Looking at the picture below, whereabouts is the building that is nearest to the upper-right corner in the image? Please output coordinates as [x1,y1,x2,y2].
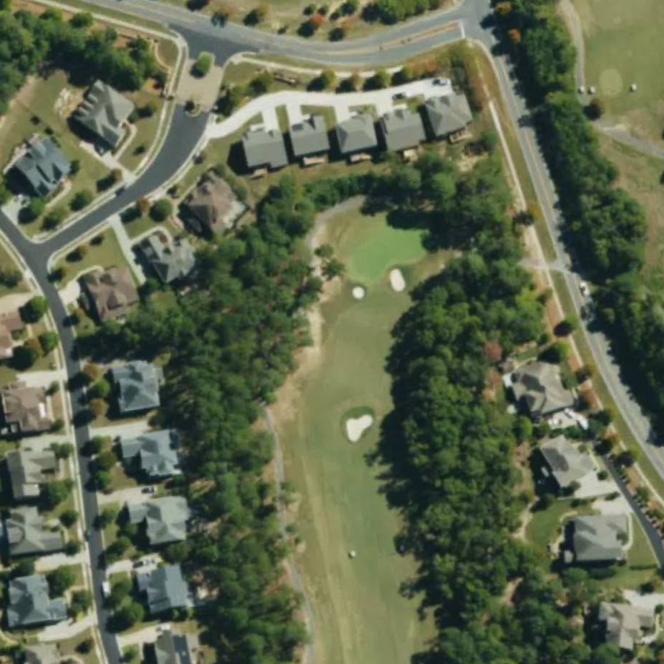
[425,92,475,140]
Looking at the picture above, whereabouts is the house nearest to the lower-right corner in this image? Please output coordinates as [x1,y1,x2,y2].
[593,601,658,654]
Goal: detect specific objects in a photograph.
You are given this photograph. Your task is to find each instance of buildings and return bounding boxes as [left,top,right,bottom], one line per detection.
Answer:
[138,231,194,283]
[514,358,578,418]
[0,507,67,556]
[119,430,187,476]
[566,512,630,566]
[11,131,71,194]
[74,83,134,147]
[153,629,197,664]
[242,127,286,175]
[21,645,82,664]
[3,449,59,502]
[425,92,475,140]
[82,266,139,319]
[5,388,52,433]
[538,433,600,489]
[0,310,24,360]
[337,112,378,158]
[383,108,425,156]
[2,574,73,626]
[127,496,191,543]
[593,601,658,654]
[184,174,242,232]
[134,563,196,613]
[290,114,329,161]
[108,362,167,411]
